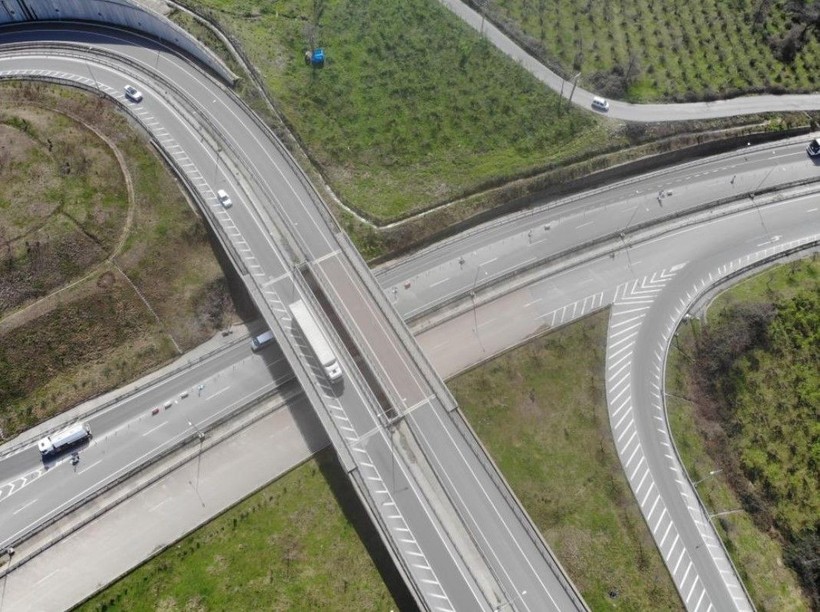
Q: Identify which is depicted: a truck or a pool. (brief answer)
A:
truck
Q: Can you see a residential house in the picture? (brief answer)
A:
No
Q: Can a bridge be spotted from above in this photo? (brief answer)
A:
Yes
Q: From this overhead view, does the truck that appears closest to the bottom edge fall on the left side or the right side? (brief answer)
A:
left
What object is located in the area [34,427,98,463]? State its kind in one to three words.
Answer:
truck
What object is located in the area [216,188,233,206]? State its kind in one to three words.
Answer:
car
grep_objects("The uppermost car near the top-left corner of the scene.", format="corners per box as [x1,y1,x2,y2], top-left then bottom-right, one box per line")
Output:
[123,85,142,99]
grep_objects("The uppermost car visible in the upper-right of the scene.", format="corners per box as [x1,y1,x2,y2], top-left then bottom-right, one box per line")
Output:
[591,95,609,110]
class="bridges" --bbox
[233,220,458,472]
